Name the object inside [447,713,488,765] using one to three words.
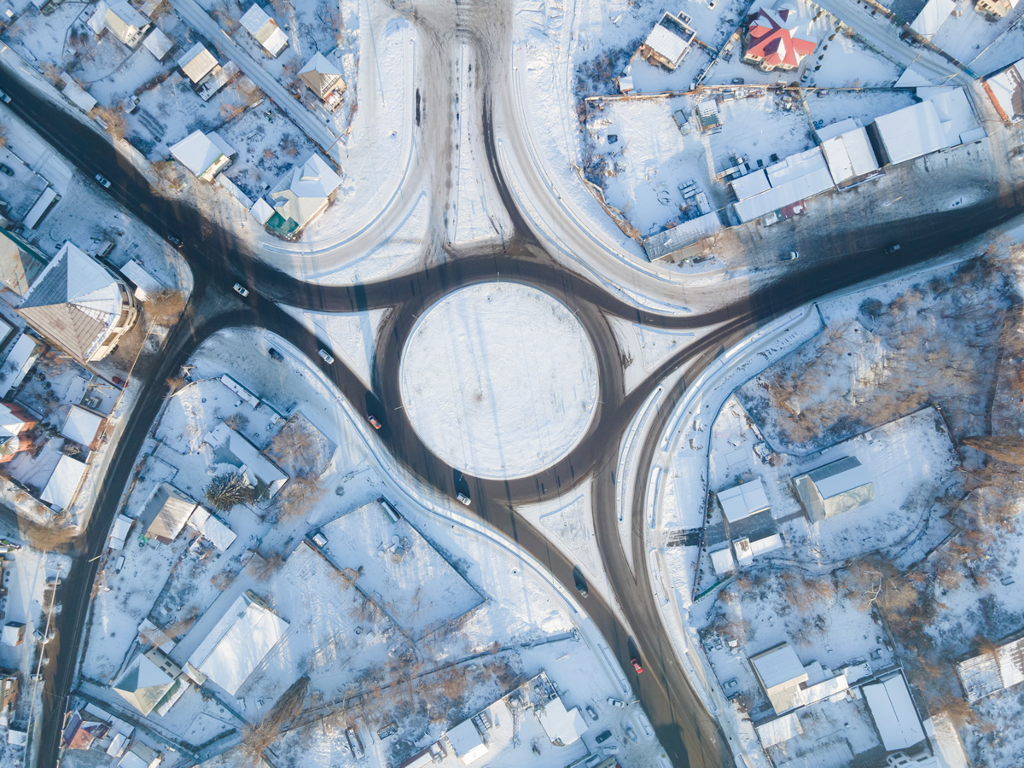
house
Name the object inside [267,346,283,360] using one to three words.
car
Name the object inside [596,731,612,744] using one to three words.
vehicle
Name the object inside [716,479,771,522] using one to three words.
building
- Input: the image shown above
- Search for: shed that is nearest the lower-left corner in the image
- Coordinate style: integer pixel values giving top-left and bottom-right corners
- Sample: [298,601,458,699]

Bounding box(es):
[8,726,33,746]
